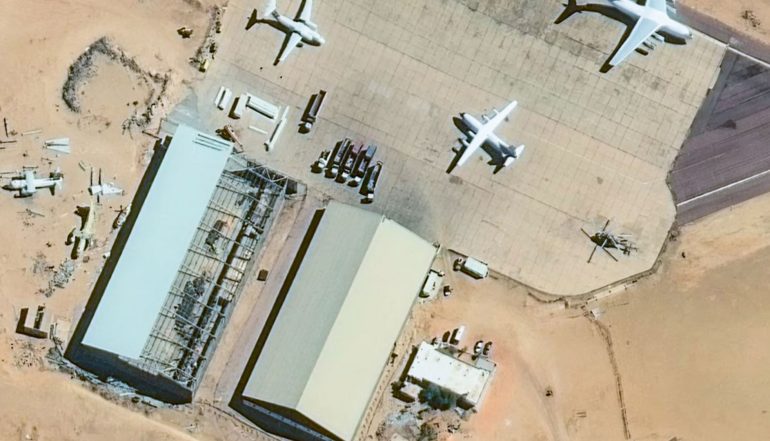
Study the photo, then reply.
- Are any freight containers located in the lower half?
No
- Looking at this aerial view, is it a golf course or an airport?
airport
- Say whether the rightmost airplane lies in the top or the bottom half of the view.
top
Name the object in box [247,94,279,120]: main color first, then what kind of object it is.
white shipping container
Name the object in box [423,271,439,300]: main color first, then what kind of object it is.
white vehicle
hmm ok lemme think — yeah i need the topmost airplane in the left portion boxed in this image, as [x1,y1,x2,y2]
[267,0,325,59]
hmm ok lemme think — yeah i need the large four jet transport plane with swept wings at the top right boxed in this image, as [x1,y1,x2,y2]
[608,0,693,62]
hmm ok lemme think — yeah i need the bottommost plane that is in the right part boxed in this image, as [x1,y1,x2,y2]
[458,97,526,168]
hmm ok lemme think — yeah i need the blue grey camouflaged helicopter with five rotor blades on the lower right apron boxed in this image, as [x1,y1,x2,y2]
[587,212,636,256]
